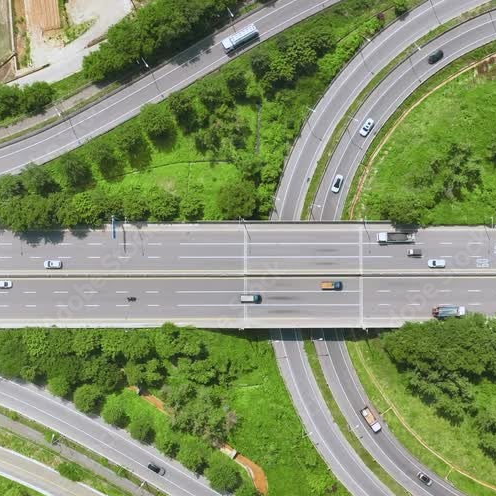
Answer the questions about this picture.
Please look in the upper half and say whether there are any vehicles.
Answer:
Yes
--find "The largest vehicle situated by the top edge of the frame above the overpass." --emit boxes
[222,23,257,50]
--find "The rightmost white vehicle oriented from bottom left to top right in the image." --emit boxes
[360,118,373,135]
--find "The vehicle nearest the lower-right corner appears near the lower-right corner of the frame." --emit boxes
[417,473,433,486]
